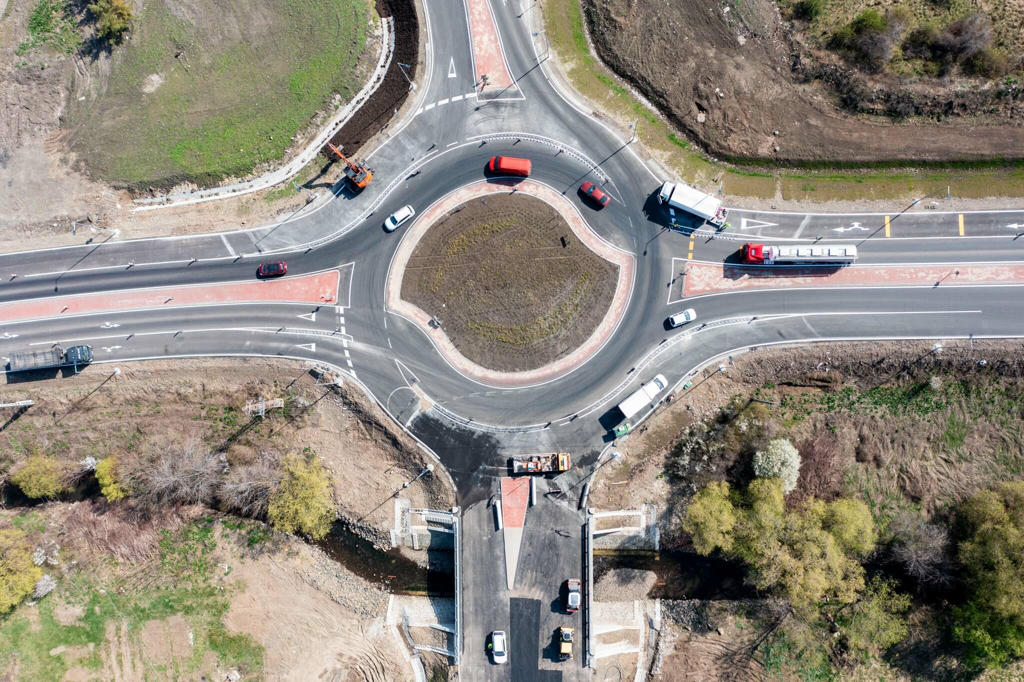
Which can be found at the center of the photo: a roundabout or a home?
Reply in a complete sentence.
It is a roundabout that can be seen at the center of the photo.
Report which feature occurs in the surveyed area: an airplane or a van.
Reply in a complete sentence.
This aerial view contains a van.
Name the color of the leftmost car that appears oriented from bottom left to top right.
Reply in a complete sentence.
The leftmost car that appears oriented from bottom left to top right is white.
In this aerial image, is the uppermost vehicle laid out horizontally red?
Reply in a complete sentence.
Yes, the uppermost vehicle laid out horizontally is indeed red.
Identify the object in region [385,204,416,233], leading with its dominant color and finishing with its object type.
white car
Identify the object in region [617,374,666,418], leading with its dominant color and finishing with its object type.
white van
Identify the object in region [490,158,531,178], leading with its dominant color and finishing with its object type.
red vehicle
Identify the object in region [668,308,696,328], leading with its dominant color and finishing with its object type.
white car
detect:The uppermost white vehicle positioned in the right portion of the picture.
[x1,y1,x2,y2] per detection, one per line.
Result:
[652,176,724,224]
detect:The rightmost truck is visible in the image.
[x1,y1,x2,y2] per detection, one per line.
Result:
[736,244,861,265]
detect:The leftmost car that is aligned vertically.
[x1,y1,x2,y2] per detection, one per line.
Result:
[492,630,508,663]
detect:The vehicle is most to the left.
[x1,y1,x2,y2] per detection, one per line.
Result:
[15,342,95,370]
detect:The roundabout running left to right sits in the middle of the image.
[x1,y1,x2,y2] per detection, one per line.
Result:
[25,132,981,433]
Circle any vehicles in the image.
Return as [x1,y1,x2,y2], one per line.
[492,630,508,663]
[612,424,631,439]
[15,342,95,370]
[617,374,666,418]
[258,261,289,277]
[385,204,416,233]
[736,244,861,265]
[652,176,724,224]
[331,144,379,194]
[512,451,573,473]
[581,182,610,208]
[560,625,574,659]
[668,308,696,328]
[490,158,531,178]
